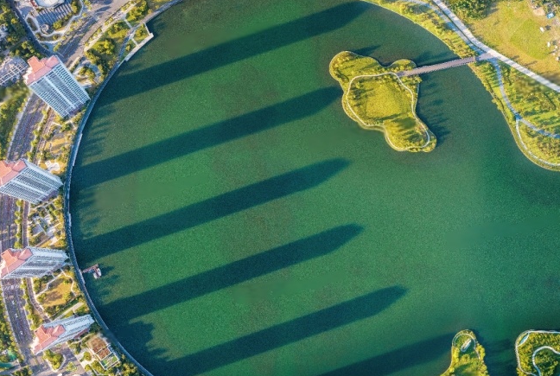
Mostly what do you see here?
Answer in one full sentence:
What you mostly see from above here is water.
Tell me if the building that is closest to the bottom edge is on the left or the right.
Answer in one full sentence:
The building that is closest to the bottom edge is on the left side of the image.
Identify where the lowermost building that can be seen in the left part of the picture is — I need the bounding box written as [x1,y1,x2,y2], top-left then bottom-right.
[87,336,116,367]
